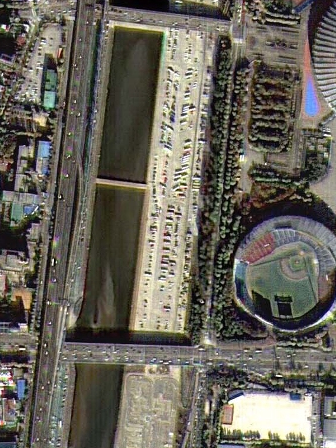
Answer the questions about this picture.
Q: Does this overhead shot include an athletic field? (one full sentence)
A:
Yes, the frame does contain an athletic field.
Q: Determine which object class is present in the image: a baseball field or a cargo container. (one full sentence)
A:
This aerial view contains a baseball field.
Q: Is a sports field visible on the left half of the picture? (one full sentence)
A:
No, there's no sports field to be seen on the left half of the picture.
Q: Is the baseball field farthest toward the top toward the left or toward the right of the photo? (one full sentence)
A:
The baseball field farthest toward the top appears in the right half of the scene.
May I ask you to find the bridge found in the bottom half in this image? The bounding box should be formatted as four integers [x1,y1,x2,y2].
[38,342,213,367]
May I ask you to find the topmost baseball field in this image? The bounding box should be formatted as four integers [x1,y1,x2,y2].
[245,235,325,323]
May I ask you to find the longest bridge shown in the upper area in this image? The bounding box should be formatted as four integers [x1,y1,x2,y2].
[20,5,240,34]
